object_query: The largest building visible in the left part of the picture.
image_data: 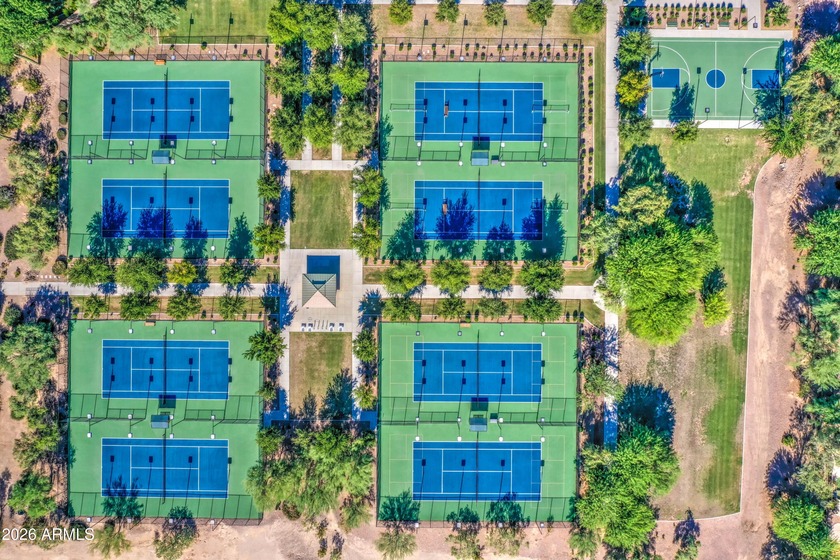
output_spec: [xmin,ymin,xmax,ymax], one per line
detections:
[302,274,336,307]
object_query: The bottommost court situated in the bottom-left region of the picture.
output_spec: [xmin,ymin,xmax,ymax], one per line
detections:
[69,419,264,517]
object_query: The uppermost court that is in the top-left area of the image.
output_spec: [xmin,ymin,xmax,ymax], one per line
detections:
[69,61,265,158]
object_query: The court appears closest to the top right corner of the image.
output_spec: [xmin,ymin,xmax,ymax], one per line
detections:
[648,38,783,120]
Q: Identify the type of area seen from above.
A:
sports ground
